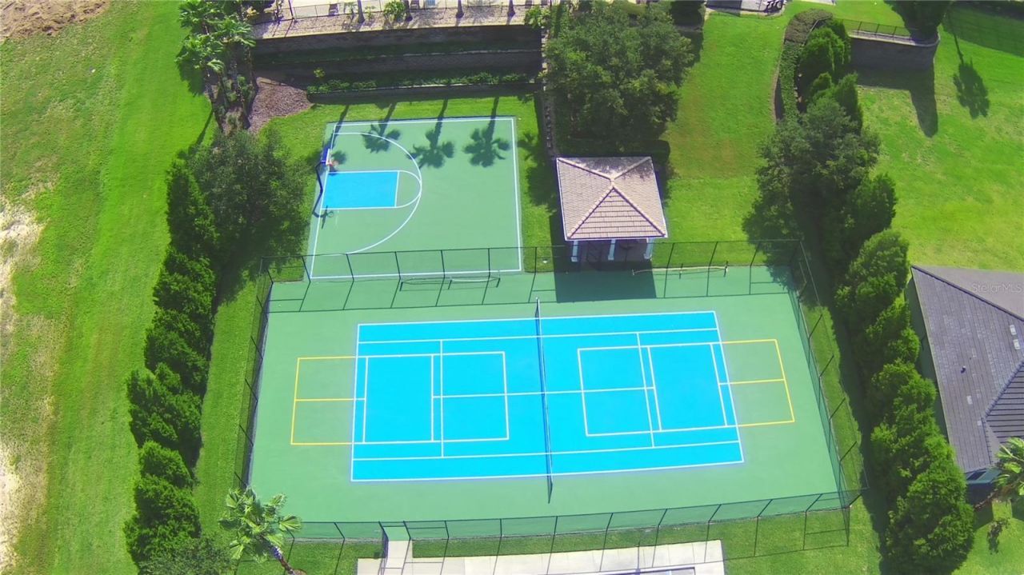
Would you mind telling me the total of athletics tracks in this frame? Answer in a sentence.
The photo contains no athletics tracks.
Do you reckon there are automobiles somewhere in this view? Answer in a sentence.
No, there appears to be no automobile in this shot.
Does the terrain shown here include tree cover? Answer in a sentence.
Yes, there's tree cover in this view.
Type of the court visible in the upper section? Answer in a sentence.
I'd say the court visible in the upper section is a basketball court.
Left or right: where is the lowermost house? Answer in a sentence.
The lowermost house appears in the right half of the scene.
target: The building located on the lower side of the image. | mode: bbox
[903,267,1024,495]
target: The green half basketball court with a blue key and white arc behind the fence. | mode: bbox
[305,117,526,280]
